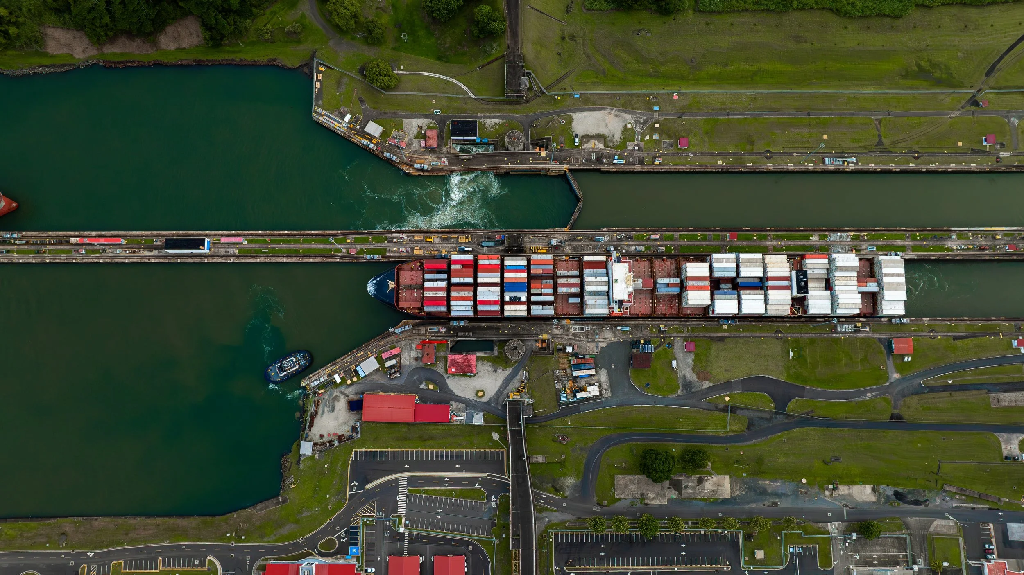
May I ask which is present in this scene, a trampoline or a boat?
boat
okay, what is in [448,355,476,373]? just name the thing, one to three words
building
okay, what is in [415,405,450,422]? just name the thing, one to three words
building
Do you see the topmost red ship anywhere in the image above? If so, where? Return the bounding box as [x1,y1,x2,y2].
[0,191,23,221]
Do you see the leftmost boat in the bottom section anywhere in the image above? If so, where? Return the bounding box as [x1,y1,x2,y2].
[263,349,316,383]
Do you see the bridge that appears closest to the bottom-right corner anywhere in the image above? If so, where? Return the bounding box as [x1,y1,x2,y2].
[506,399,537,575]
